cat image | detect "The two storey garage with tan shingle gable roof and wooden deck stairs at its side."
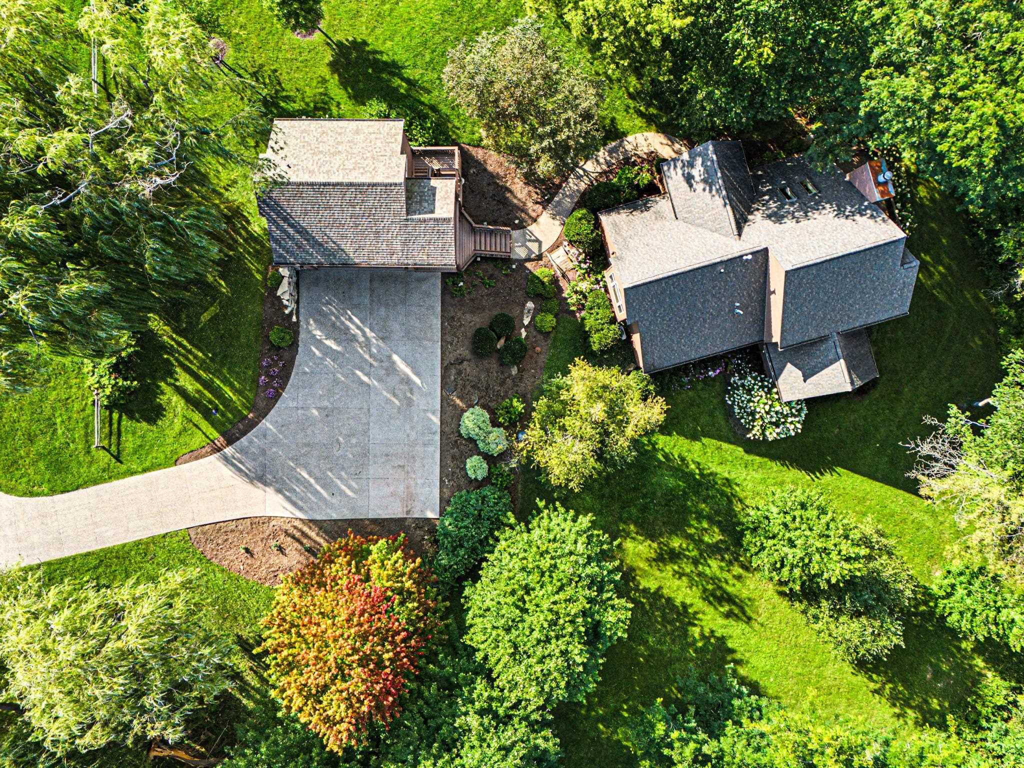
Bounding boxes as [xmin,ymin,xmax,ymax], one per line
[254,120,457,275]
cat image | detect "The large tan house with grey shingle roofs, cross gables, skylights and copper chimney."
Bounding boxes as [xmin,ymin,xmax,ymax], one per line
[595,139,922,404]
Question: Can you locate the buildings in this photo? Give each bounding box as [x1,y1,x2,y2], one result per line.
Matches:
[595,139,922,404]
[254,120,457,275]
